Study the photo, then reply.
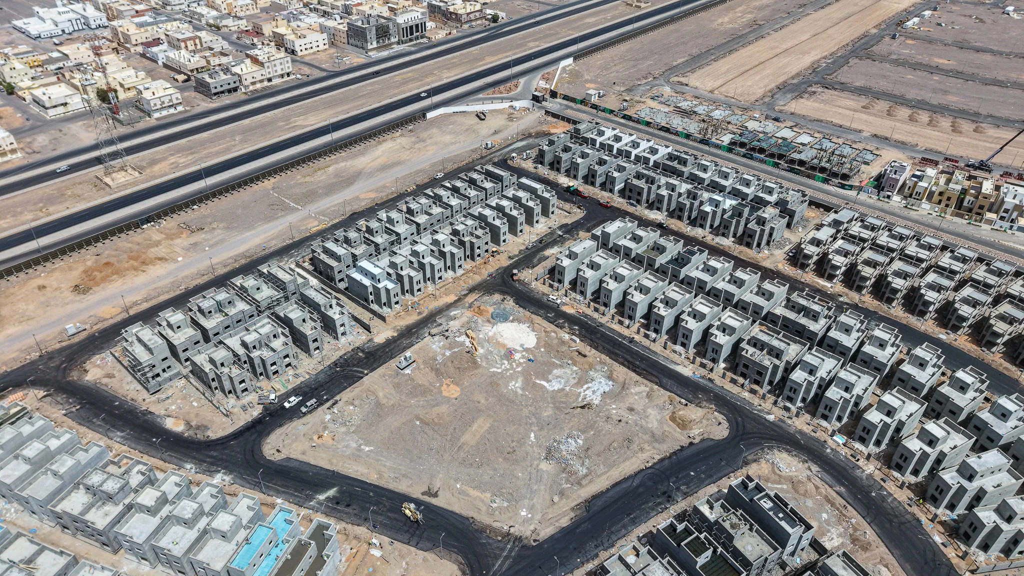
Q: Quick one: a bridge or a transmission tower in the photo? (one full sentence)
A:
The image shows a transmission tower.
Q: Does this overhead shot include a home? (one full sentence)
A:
Yes, looking at the shot, I can spot a home.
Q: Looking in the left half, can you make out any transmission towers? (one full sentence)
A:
Yes, a transmission tower appears in the left half.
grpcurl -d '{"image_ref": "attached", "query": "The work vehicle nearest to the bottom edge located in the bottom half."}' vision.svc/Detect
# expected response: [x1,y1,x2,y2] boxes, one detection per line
[400,497,423,523]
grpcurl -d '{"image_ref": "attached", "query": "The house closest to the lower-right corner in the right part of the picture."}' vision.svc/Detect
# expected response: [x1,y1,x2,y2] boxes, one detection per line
[955,489,1024,557]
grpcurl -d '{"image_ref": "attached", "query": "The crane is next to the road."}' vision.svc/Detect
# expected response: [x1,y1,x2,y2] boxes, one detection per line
[963,132,1024,173]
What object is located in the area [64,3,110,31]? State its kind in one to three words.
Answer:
building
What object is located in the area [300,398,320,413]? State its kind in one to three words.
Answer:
car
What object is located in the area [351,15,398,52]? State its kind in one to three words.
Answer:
house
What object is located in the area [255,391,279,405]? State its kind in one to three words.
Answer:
vehicle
